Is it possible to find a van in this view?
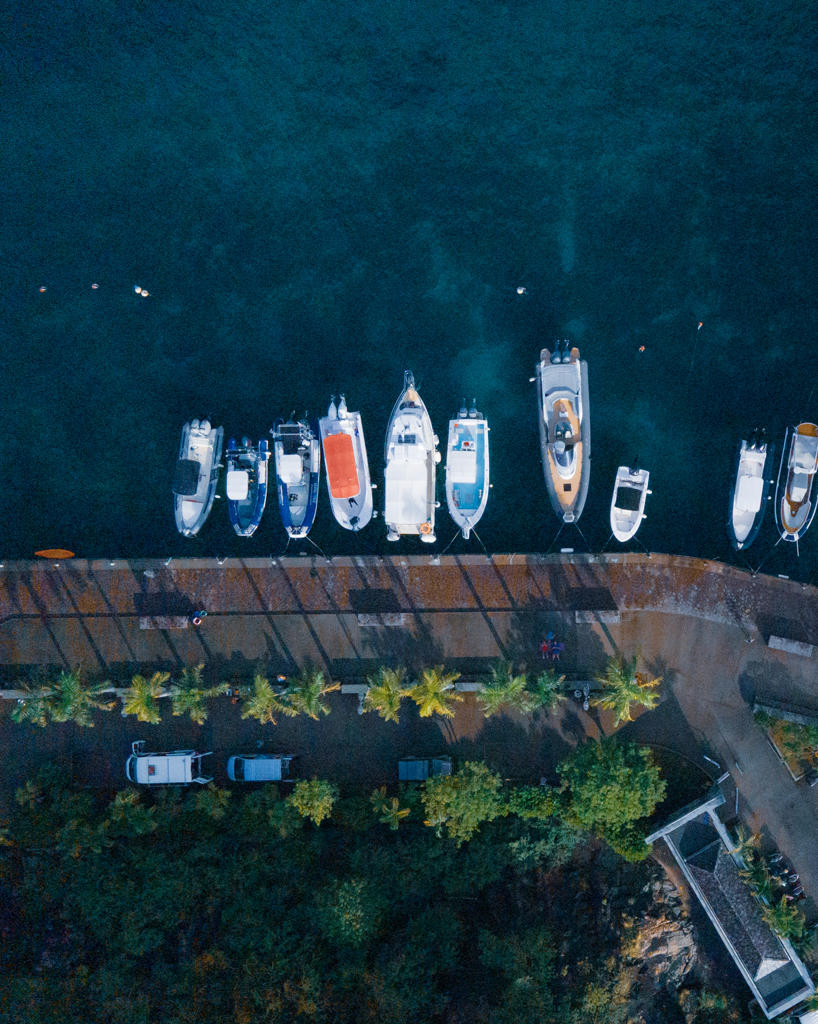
Yes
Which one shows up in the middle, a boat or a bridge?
boat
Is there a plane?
No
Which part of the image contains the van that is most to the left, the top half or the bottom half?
bottom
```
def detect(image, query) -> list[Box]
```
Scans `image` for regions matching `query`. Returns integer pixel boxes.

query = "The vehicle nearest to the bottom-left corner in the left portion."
[127,736,217,787]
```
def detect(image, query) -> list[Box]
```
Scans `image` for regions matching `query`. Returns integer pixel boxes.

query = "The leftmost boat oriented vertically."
[172,419,223,537]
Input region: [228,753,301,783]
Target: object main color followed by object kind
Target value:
blue van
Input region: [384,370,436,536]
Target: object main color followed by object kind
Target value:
white boat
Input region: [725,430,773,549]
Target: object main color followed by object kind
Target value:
white boat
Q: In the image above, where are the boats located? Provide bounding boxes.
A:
[226,436,269,537]
[320,395,373,532]
[172,419,223,537]
[774,422,818,541]
[271,411,322,540]
[537,340,592,523]
[611,456,649,543]
[384,370,436,536]
[446,398,489,539]
[725,430,773,549]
